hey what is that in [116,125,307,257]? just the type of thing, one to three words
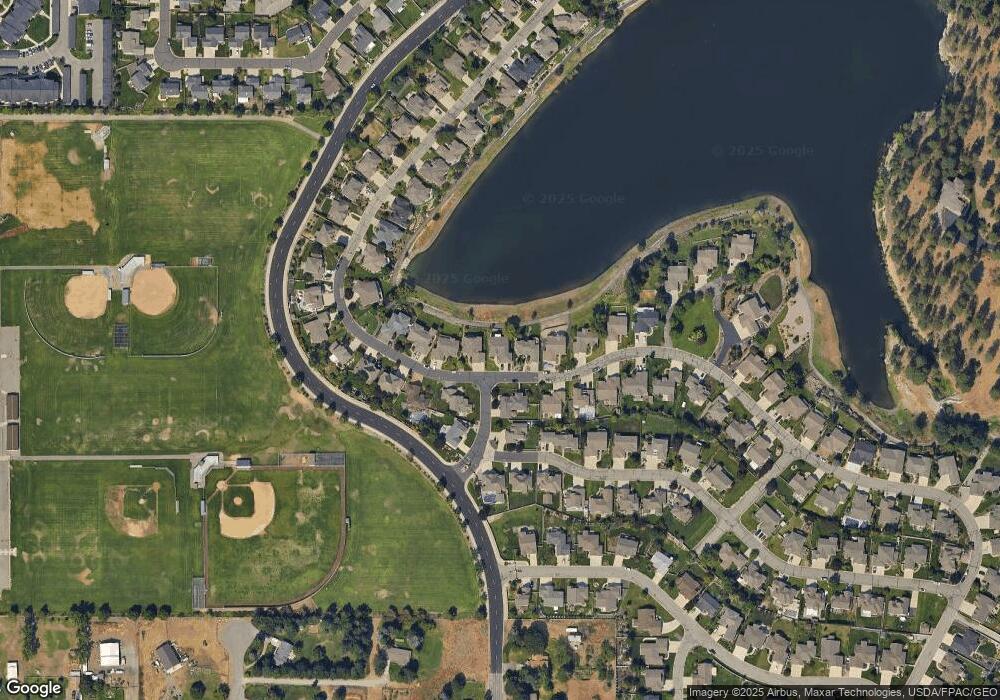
sports field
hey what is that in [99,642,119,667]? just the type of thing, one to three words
barn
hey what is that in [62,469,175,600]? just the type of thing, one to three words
baseball field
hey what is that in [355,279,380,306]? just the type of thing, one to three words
house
